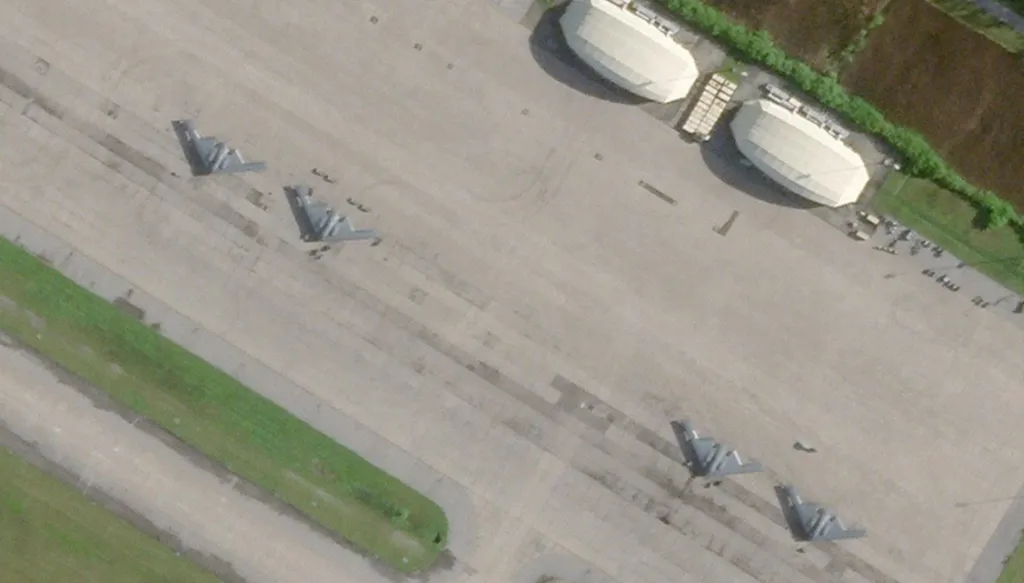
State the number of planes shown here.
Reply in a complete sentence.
Altogether the scene contains 4 planes.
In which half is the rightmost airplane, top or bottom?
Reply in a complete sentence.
The rightmost airplane sits in the bottom half of the picture.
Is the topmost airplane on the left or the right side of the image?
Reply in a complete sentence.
The topmost airplane appears in the left half of the scene.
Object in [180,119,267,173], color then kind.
gray airplane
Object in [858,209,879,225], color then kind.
white vehicle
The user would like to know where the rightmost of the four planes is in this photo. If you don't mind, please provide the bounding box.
[783,485,867,539]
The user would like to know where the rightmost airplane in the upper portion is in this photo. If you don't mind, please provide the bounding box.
[293,185,377,239]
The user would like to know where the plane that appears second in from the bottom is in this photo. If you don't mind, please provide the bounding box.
[681,420,764,474]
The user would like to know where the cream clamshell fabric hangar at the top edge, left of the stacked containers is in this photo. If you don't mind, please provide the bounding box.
[559,0,698,104]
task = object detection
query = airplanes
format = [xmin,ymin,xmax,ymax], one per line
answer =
[783,485,867,539]
[681,420,764,474]
[293,185,377,239]
[180,119,267,173]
